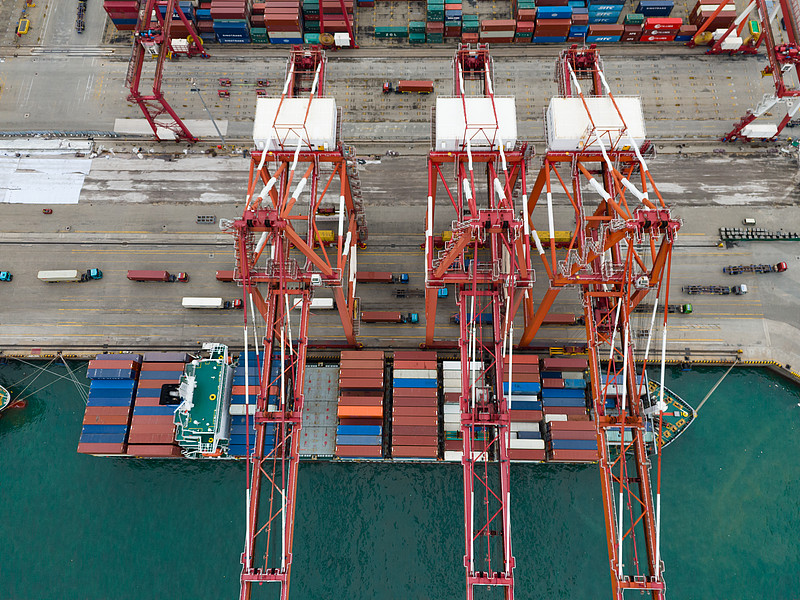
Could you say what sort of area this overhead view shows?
port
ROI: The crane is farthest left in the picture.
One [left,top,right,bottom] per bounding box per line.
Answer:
[132,0,209,141]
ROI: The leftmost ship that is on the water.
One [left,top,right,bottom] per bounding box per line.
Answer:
[0,380,31,415]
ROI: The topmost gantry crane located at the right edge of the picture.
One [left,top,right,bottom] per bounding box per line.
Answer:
[686,0,761,48]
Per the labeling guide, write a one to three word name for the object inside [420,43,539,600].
container crane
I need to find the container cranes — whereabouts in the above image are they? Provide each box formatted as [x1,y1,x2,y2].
[686,0,761,48]
[212,43,370,600]
[512,43,684,600]
[132,0,209,141]
[420,43,539,600]
[704,0,800,141]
